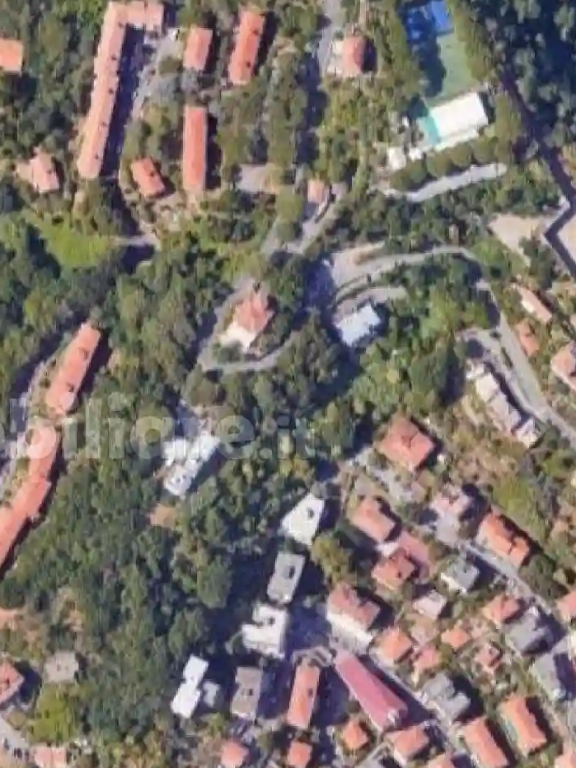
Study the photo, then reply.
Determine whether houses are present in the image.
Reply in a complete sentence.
Yes, the frame does contain a house.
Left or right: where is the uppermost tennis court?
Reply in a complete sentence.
The uppermost tennis court appears in the right half of the scene.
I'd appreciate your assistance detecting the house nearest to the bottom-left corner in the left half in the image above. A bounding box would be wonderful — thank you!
[33,746,67,768]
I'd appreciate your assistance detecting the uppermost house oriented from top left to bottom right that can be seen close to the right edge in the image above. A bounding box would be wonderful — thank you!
[513,284,553,323]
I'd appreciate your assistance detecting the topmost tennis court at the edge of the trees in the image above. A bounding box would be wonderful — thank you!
[403,0,453,44]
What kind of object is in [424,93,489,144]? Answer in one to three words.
building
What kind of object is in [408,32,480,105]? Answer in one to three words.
sports court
